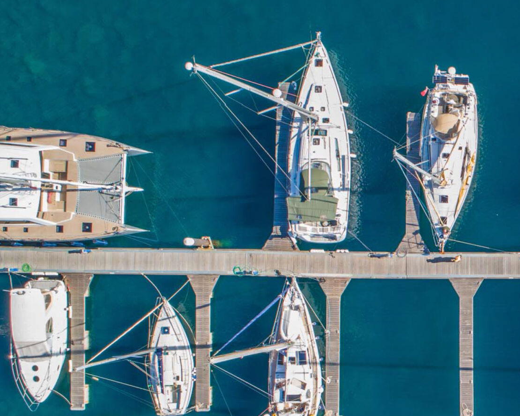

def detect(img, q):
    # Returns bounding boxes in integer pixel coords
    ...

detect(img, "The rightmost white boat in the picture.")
[389,65,479,253]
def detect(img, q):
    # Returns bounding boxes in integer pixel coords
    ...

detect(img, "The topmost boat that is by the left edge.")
[0,126,152,243]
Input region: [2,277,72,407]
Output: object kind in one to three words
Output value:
boat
